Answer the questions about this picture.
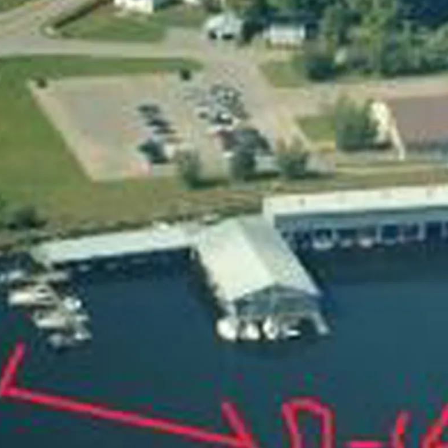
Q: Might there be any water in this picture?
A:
Yes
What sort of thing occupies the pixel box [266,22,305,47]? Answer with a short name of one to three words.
shed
